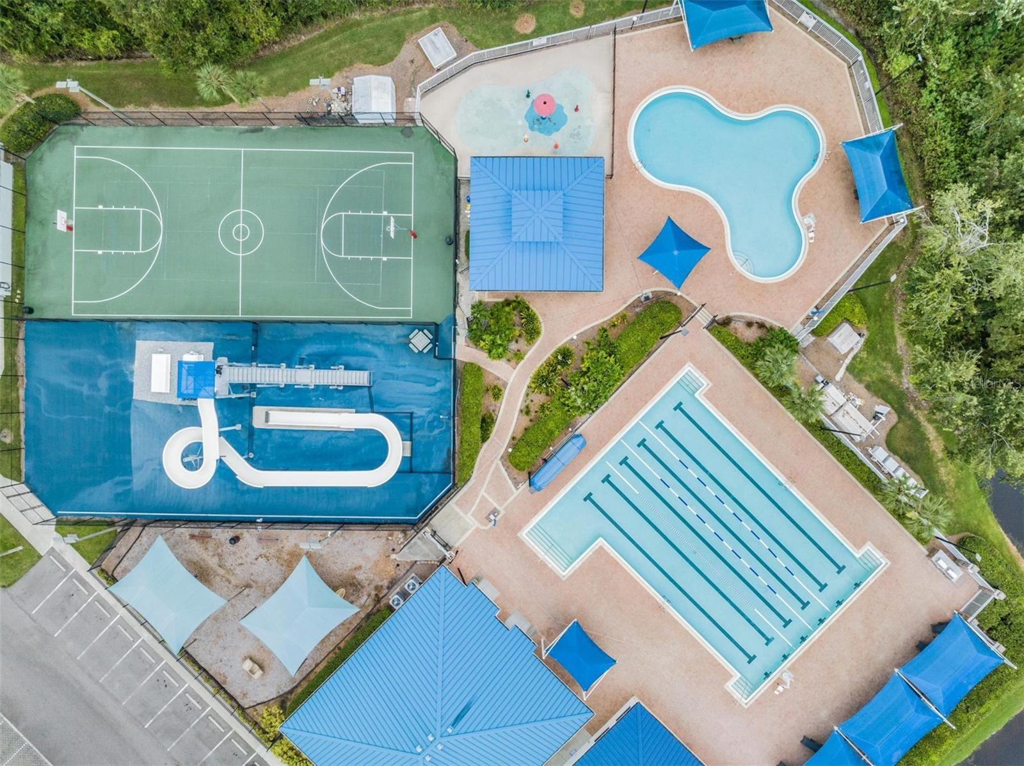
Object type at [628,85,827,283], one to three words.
swimming pool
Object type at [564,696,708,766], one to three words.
building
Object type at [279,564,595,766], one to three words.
building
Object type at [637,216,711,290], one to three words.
umbrella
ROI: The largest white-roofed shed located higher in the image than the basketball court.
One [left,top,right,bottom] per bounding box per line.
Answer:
[351,67,393,122]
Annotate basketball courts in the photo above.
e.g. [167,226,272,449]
[25,125,457,321]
